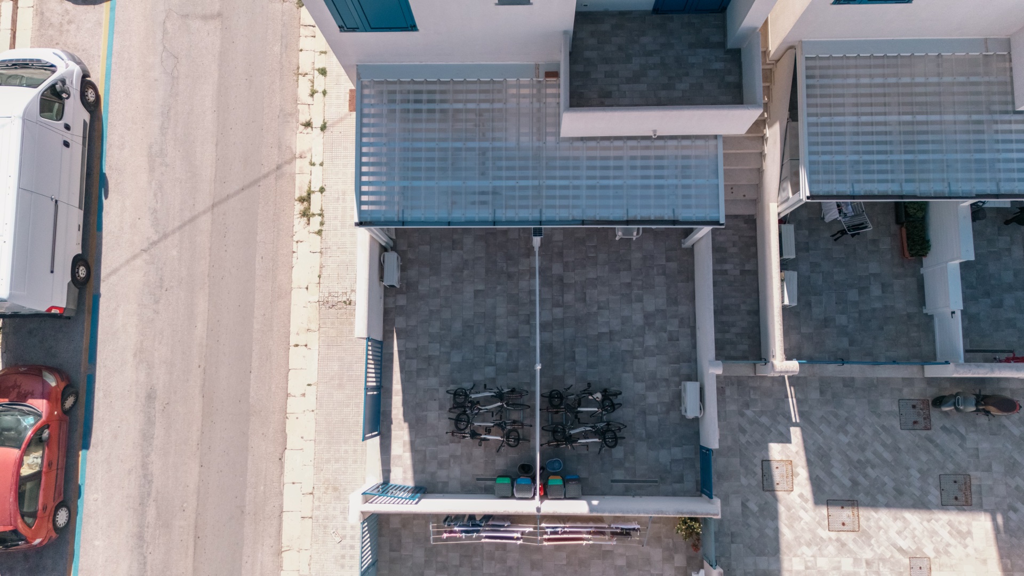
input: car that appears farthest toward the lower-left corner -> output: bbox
[0,365,77,557]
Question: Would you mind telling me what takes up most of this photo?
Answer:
paved ground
